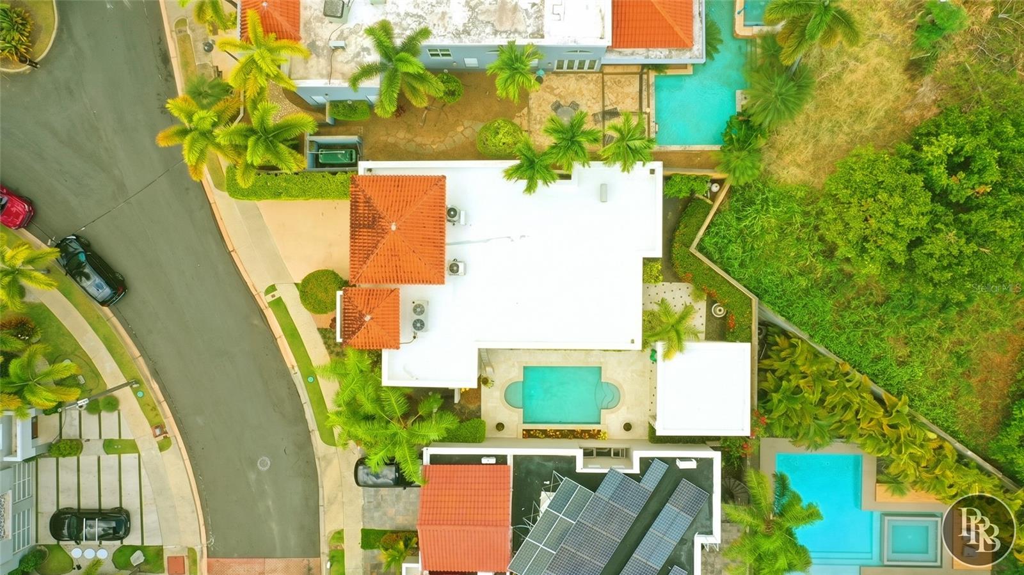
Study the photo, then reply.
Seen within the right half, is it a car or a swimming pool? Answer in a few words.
swimming pool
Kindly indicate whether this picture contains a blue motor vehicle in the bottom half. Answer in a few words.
No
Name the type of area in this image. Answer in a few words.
residential area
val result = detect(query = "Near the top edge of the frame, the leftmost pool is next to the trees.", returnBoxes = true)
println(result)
[651,0,753,150]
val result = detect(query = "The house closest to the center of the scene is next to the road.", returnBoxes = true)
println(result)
[337,161,662,403]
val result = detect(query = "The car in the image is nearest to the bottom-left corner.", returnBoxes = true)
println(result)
[44,509,127,550]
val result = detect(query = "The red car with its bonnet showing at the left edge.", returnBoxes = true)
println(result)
[0,186,32,228]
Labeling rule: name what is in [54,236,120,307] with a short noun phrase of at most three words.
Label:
car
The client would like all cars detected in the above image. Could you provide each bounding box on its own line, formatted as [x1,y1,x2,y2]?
[350,457,421,497]
[44,509,127,550]
[0,186,32,228]
[54,236,120,307]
